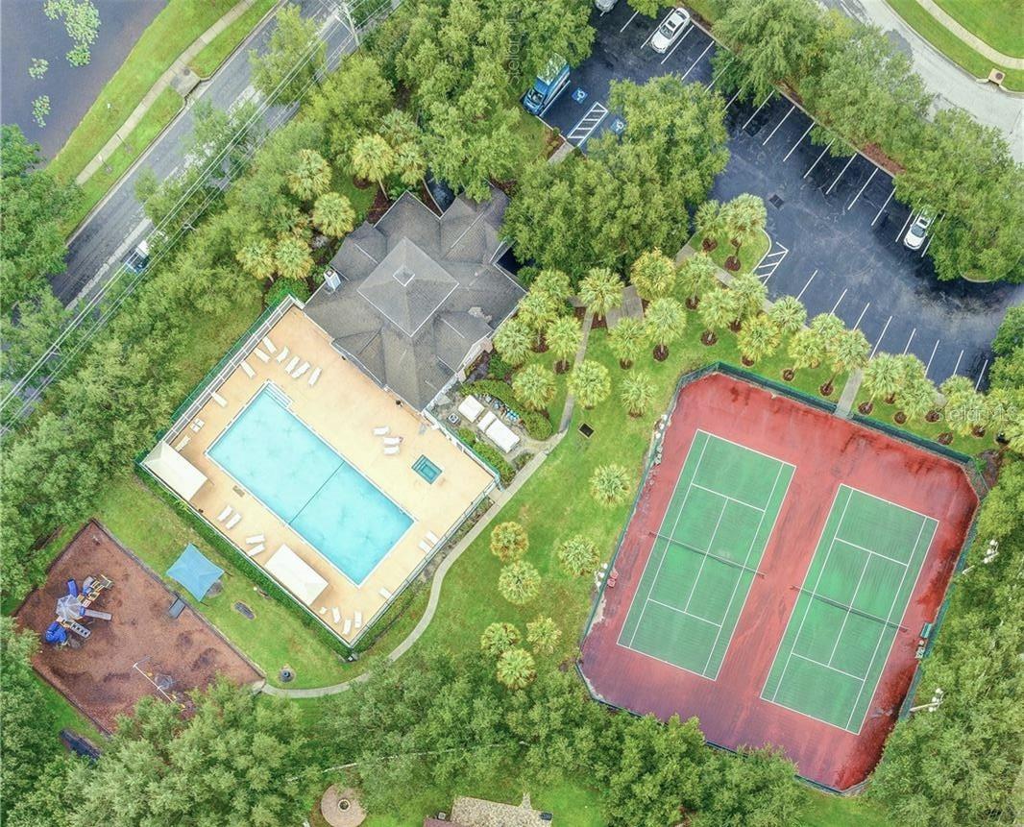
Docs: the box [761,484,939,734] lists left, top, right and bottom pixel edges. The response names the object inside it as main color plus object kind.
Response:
green tennis court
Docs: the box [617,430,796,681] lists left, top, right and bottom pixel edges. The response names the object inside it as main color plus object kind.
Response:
green tennis court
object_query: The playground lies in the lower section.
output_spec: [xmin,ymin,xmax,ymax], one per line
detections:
[21,524,258,734]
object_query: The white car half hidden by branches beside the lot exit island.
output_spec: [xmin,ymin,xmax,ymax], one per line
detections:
[908,202,942,247]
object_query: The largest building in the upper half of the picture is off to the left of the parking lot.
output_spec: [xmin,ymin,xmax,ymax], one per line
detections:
[304,189,526,419]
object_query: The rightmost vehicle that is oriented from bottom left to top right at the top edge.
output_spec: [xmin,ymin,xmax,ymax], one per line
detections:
[655,1,692,49]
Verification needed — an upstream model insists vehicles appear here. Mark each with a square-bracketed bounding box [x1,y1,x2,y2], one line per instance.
[121,235,158,276]
[524,50,571,122]
[596,0,618,13]
[655,1,692,49]
[908,202,942,247]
